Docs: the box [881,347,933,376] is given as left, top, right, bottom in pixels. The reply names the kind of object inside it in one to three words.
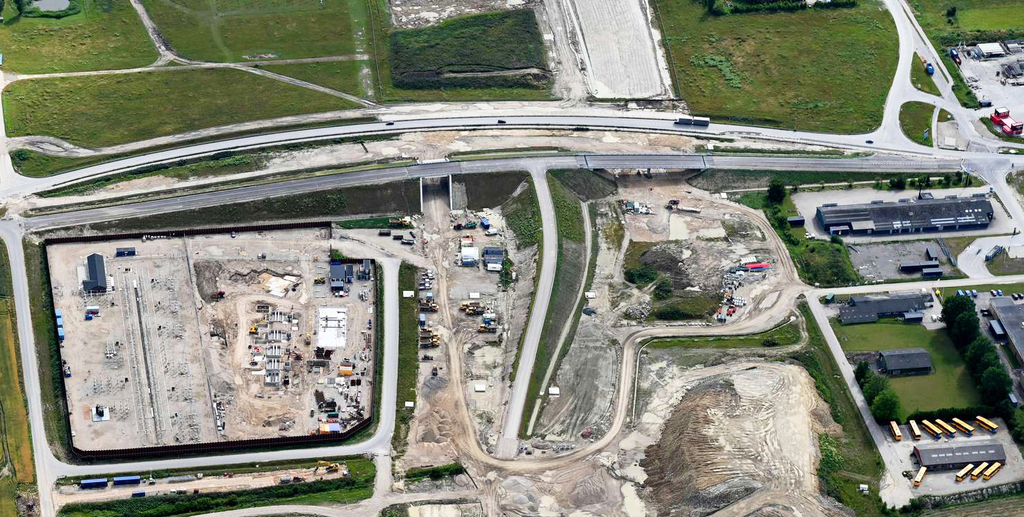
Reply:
barn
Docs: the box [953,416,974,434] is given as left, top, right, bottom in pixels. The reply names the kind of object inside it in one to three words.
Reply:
vehicle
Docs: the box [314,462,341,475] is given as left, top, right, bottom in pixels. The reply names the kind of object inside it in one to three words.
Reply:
vehicle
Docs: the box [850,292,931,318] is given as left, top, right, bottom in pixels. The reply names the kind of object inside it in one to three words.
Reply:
building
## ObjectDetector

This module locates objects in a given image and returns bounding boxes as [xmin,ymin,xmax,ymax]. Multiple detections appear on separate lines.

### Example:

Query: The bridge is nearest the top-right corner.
[574,153,720,179]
